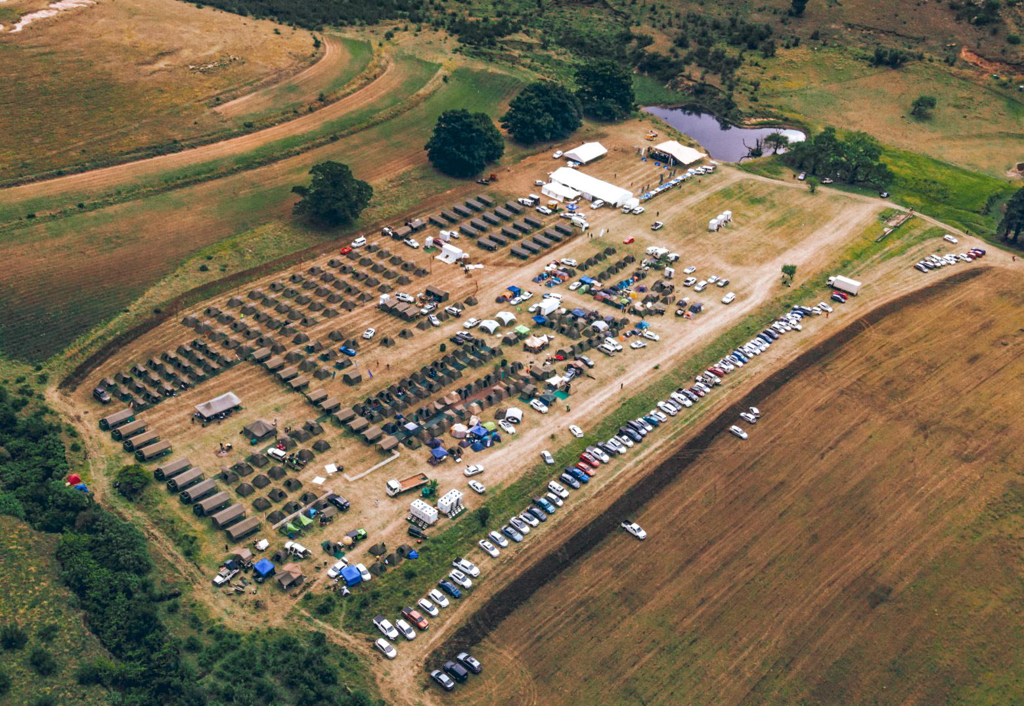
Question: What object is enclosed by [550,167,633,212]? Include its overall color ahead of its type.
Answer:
white tent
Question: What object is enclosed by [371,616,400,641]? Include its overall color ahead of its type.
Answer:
white truck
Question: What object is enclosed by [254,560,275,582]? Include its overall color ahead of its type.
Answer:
blue gazebo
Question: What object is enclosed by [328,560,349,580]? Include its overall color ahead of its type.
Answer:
white car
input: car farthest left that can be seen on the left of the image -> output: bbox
[94,387,110,403]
